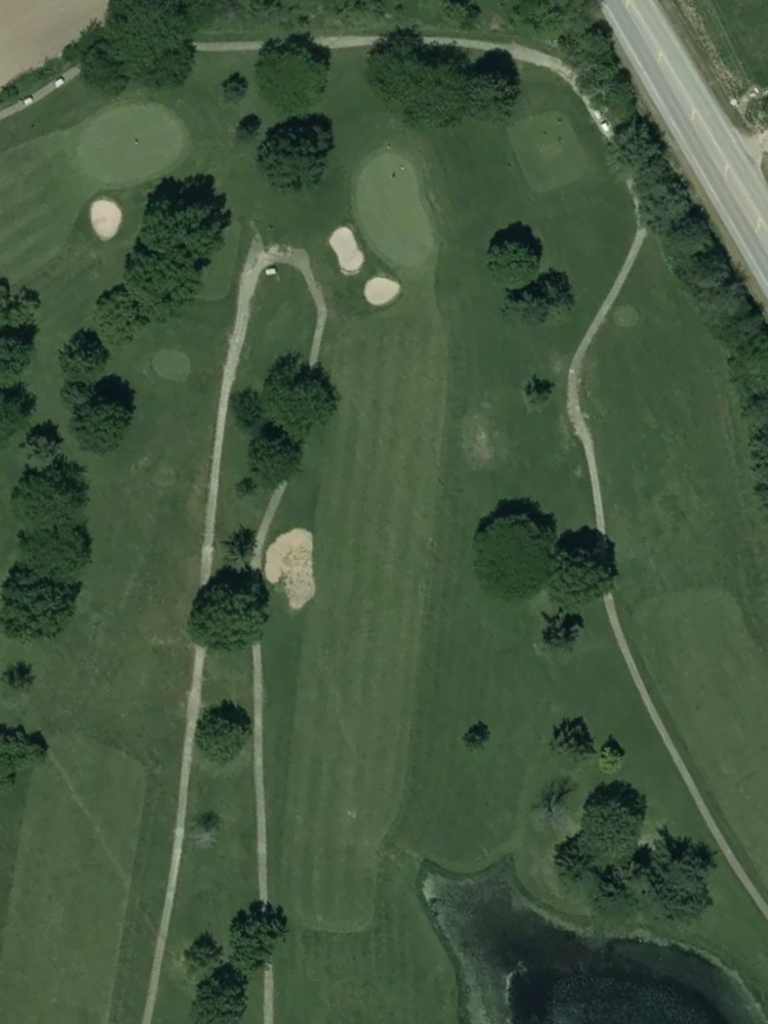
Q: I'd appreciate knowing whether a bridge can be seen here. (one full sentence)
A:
No, the frame has no bridge in it.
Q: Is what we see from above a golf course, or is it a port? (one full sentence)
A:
This image shows a golf course.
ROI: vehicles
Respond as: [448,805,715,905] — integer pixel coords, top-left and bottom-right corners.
[265,268,278,276]
[22,96,35,107]
[592,109,603,122]
[53,77,67,88]
[600,121,610,134]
